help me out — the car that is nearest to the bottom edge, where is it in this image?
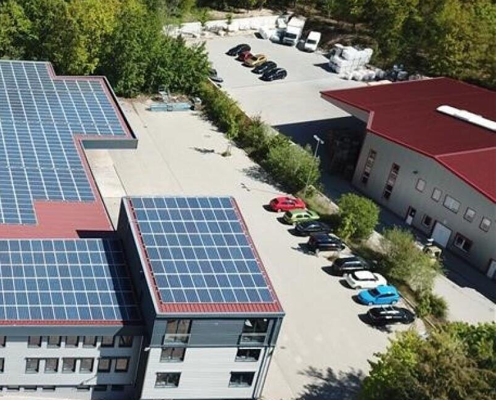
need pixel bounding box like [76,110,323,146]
[361,305,418,327]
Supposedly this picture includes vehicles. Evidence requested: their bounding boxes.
[302,29,320,54]
[252,62,276,76]
[282,208,318,225]
[284,10,304,46]
[341,271,387,291]
[262,69,287,83]
[244,55,266,68]
[326,255,376,275]
[227,44,249,57]
[302,233,349,253]
[236,50,255,63]
[355,286,403,307]
[268,196,307,214]
[291,219,332,237]
[361,305,418,327]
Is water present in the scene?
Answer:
No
